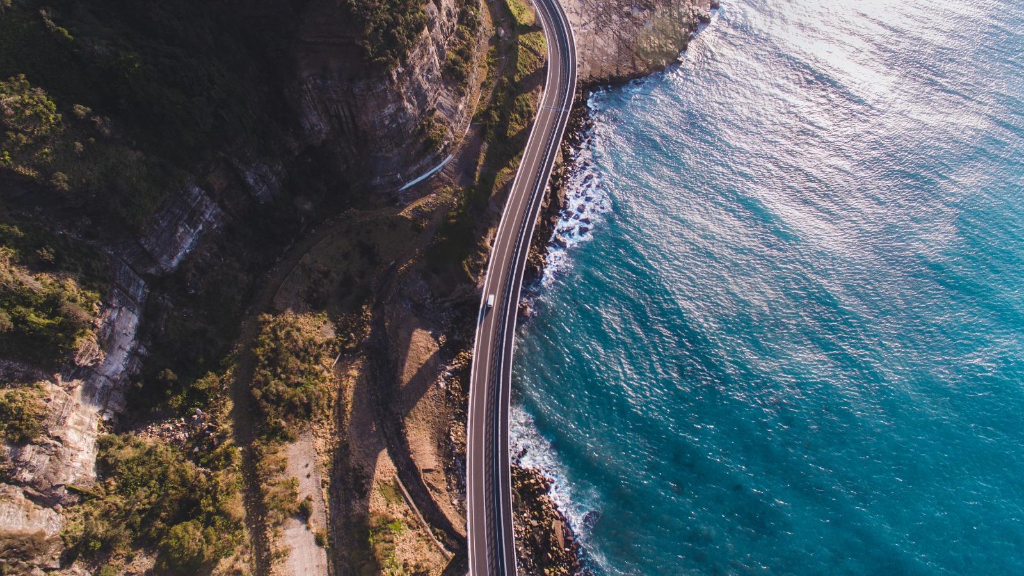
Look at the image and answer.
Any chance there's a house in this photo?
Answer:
No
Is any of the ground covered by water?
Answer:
Yes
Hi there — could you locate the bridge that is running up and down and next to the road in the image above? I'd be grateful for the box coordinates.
[467,0,578,576]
